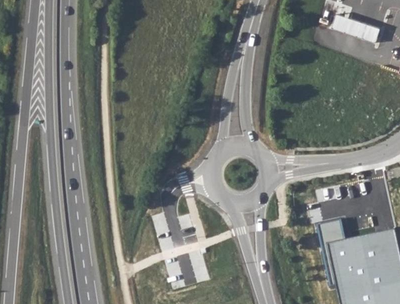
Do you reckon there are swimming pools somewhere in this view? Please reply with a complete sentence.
No, the photo shows no swimming pool.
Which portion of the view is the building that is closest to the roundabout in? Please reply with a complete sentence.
The building that is closest to the roundabout is located in the bottom right region of the scene.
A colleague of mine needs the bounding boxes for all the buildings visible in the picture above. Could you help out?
[314,214,400,304]
[330,16,380,44]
